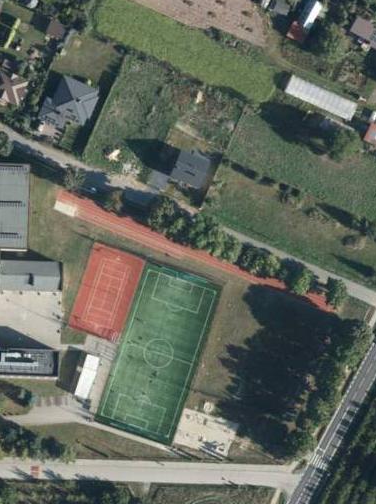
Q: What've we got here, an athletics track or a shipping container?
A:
athletics track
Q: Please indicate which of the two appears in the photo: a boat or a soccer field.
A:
soccer field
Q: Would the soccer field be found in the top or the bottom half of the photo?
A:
bottom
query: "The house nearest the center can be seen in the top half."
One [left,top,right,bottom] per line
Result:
[146,148,211,190]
